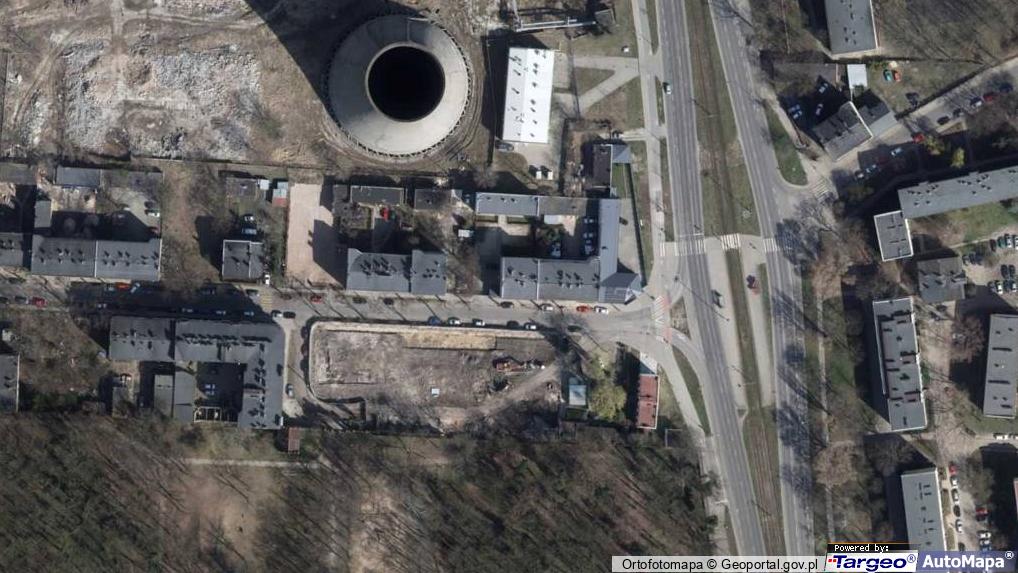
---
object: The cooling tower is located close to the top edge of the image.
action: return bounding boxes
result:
[322,10,473,162]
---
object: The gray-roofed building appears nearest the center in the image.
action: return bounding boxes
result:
[500,257,539,299]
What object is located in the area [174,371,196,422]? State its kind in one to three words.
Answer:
shed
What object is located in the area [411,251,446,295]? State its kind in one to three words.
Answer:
house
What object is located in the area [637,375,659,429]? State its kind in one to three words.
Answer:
building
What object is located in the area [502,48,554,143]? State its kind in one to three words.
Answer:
building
